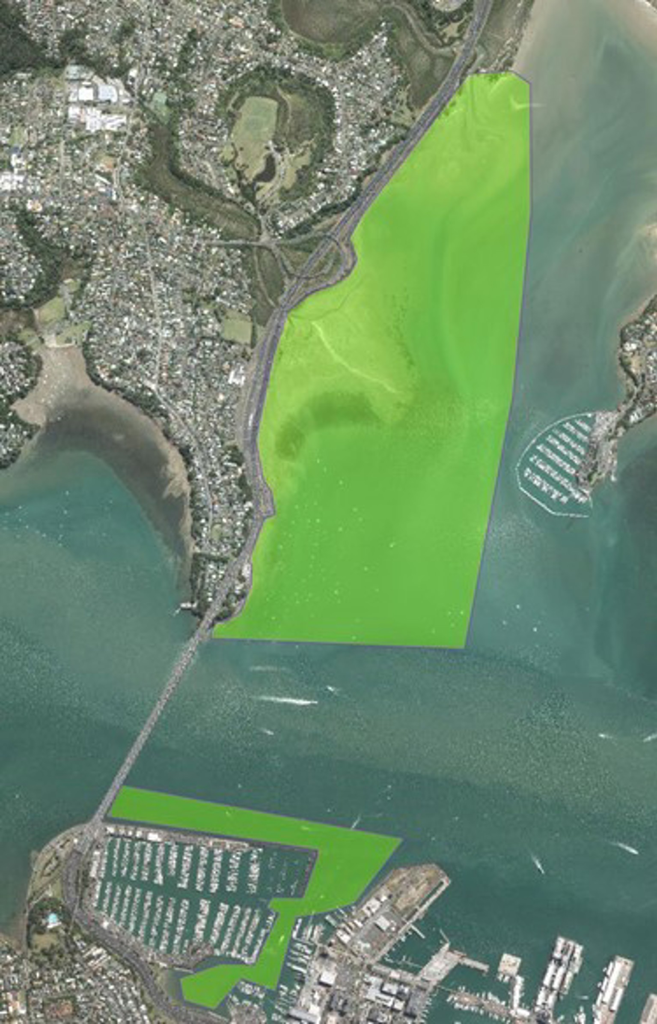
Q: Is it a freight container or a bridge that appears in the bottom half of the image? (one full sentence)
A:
The one visible in the bottom half of the image is a bridge.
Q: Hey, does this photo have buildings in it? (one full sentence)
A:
Yes, there's a building down there.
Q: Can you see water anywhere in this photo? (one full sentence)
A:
Yes, there's water in this view.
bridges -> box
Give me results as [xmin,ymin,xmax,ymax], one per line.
[91,616,212,824]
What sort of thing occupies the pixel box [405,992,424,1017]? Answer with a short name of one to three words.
building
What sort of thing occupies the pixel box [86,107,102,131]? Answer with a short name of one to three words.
building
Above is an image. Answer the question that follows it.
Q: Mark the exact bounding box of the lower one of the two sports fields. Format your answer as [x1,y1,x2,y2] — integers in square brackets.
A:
[224,310,252,343]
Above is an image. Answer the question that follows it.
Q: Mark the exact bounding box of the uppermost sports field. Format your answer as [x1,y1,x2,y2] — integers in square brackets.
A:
[232,96,278,176]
